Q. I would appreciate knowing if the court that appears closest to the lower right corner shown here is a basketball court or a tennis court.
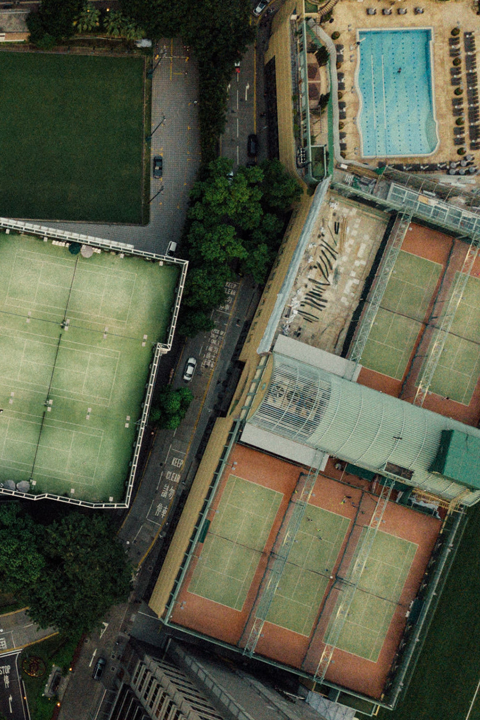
tennis court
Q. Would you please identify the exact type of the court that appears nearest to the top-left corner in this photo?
tennis court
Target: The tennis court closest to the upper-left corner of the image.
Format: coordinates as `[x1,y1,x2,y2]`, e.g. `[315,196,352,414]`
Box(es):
[5,249,136,329]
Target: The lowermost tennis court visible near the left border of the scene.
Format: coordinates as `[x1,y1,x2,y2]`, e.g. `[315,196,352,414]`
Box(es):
[0,409,103,485]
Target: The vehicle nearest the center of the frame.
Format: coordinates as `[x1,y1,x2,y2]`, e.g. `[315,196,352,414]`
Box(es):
[182,358,196,381]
